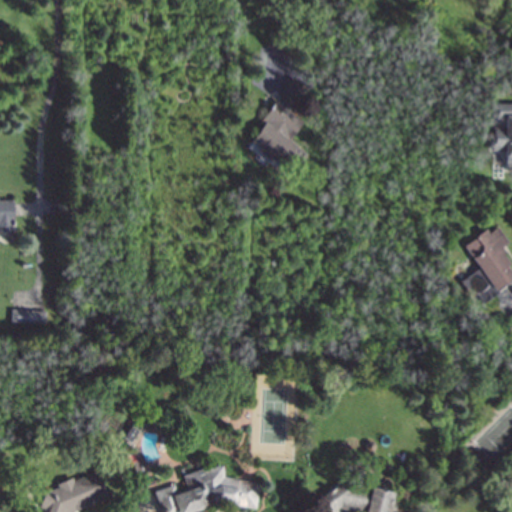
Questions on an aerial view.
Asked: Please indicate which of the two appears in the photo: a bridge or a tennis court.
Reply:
tennis court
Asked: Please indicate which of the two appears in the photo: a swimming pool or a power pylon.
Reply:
swimming pool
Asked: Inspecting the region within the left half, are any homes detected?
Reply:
Yes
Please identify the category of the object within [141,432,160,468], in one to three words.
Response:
swimming pool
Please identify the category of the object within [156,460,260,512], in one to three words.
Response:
house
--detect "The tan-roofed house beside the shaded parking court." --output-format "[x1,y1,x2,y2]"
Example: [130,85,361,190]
[252,102,312,172]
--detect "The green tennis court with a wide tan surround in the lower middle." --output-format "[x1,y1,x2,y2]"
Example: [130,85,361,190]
[252,374,295,462]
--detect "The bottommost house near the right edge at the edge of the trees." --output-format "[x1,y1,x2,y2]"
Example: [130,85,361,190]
[466,227,512,298]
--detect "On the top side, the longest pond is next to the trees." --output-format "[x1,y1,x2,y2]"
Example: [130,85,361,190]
[88,59,134,152]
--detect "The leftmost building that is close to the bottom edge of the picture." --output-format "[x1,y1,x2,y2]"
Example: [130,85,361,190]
[44,474,106,512]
